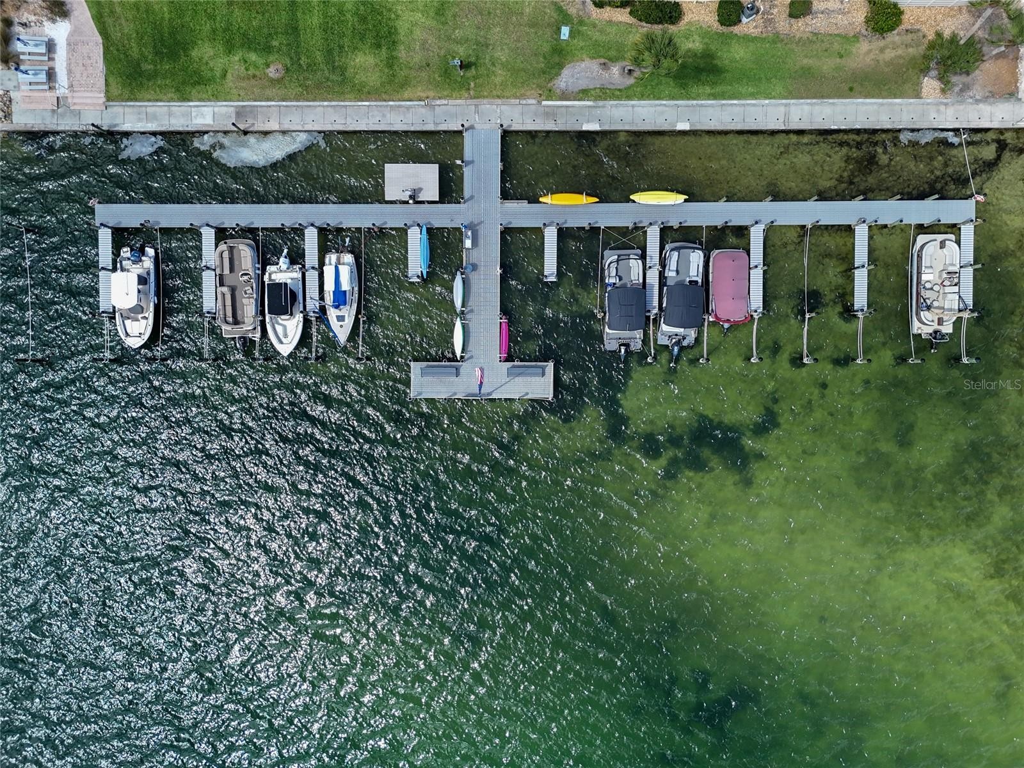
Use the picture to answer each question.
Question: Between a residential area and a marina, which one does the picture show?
marina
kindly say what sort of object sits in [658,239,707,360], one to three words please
boat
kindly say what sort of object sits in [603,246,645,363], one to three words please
boat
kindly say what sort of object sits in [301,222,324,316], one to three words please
pier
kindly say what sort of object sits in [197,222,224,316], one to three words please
pier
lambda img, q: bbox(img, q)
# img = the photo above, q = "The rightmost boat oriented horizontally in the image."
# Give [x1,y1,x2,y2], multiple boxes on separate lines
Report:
[630,190,689,204]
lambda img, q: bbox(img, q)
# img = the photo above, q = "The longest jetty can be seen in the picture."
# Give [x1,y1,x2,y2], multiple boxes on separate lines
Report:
[96,123,987,402]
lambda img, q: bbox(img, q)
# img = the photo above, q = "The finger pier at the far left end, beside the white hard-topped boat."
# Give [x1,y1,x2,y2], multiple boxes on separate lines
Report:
[92,222,122,315]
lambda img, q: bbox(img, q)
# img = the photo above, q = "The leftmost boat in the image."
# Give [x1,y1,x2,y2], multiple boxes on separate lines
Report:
[111,246,159,349]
